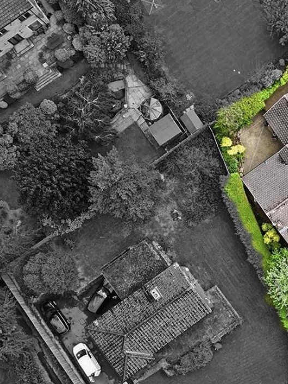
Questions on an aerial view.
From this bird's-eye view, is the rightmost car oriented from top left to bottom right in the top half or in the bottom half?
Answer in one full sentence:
The rightmost car oriented from top left to bottom right is in the bottom half of the image.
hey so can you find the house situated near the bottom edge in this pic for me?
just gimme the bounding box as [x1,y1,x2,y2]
[85,240,211,382]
